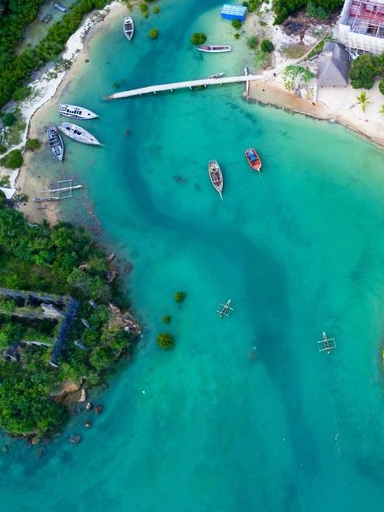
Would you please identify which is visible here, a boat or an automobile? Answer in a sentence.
It is a boat that can be seen here.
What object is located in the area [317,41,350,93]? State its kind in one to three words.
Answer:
building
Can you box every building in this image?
[222,4,248,23]
[339,0,384,56]
[317,41,350,93]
